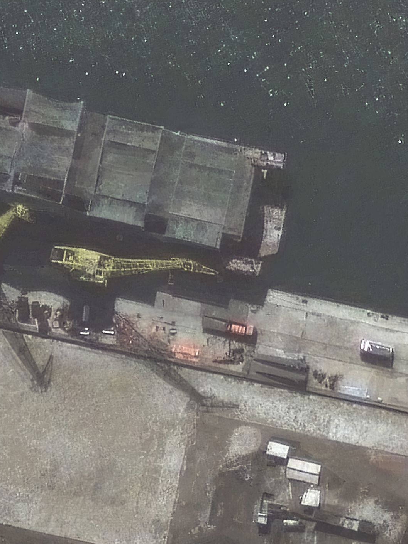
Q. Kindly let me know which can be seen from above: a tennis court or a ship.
ship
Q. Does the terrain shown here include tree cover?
No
